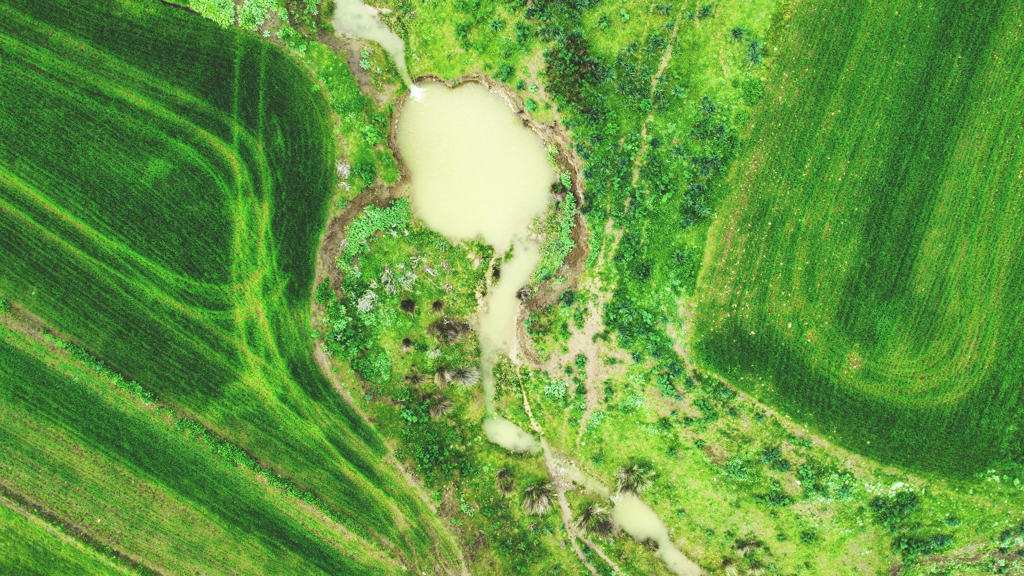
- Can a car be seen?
No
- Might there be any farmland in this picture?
Yes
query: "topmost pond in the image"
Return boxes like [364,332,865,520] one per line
[396,80,555,421]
